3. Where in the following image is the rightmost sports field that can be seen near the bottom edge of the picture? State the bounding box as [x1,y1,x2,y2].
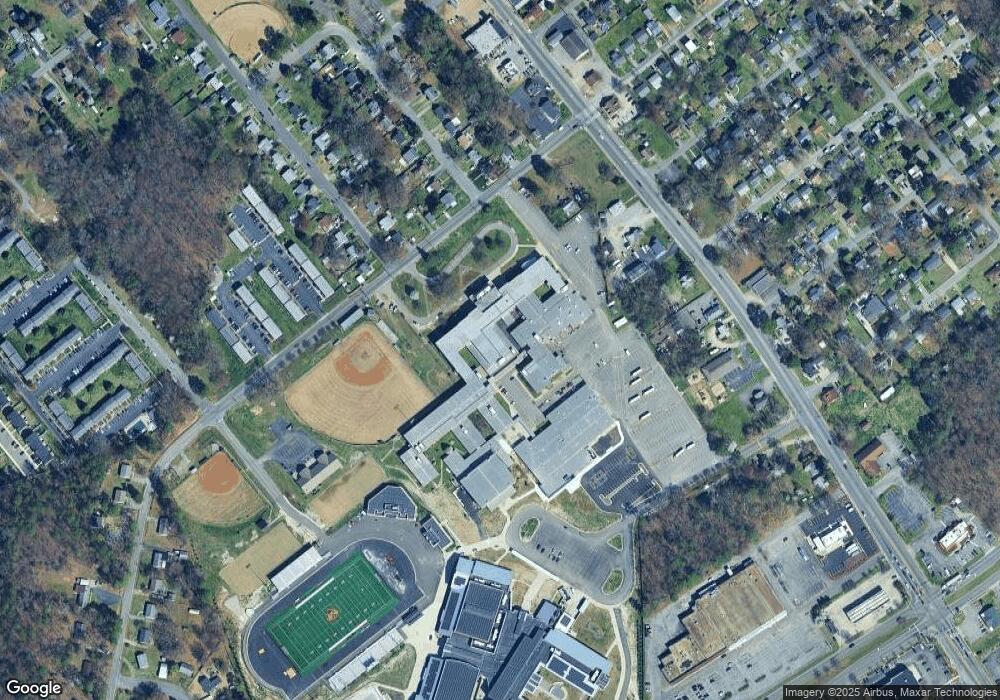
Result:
[266,553,399,676]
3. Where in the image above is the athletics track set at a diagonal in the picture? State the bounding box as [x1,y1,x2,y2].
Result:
[244,538,425,698]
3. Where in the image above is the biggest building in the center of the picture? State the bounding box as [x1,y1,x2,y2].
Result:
[399,255,618,523]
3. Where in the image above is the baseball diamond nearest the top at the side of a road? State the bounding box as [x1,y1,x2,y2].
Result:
[190,0,292,64]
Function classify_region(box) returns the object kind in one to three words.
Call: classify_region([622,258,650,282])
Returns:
building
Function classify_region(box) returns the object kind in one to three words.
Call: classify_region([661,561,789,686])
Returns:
building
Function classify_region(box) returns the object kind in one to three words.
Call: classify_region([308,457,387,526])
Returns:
sports field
